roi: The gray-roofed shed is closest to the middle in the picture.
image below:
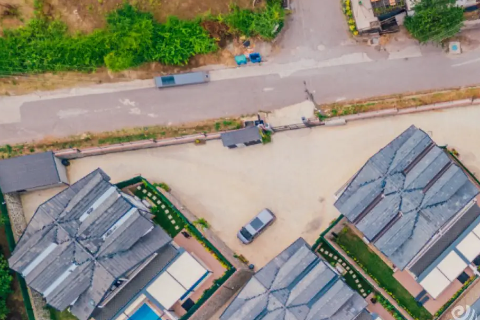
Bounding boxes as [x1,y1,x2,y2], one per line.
[222,125,267,150]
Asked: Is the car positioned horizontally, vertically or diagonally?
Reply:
diagonally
